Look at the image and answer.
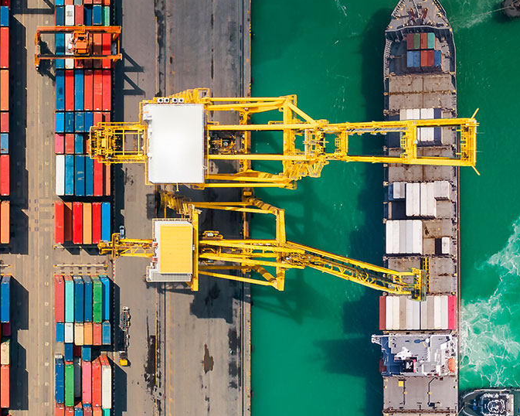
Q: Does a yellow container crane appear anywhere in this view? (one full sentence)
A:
Yes, looking at the shot, I can spot a yellow container crane.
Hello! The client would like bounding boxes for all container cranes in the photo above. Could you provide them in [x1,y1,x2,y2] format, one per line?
[87,84,480,192]
[32,25,123,70]
[98,186,422,309]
